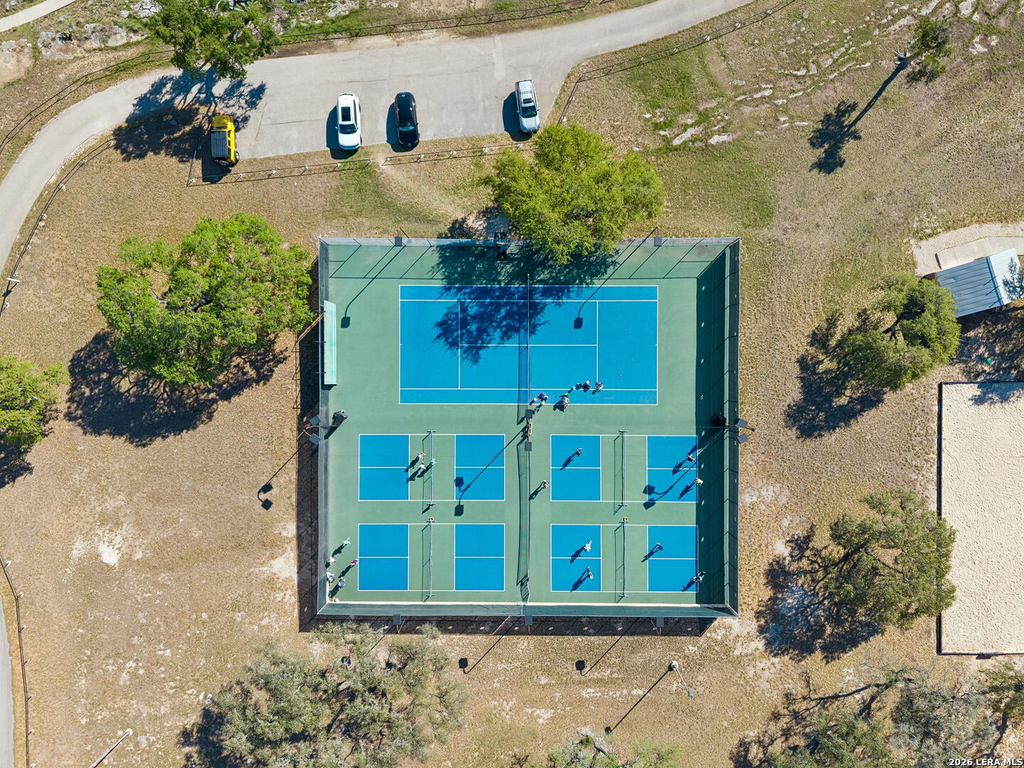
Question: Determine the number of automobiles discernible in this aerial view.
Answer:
4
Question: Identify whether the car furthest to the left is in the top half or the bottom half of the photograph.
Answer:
top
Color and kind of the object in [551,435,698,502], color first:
blue sports court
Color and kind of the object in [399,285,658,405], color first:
blue tennis court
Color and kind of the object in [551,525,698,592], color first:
blue sports court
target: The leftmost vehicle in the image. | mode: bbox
[211,120,240,169]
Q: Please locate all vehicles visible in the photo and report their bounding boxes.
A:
[211,120,240,169]
[397,93,421,147]
[338,94,363,149]
[516,82,542,137]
